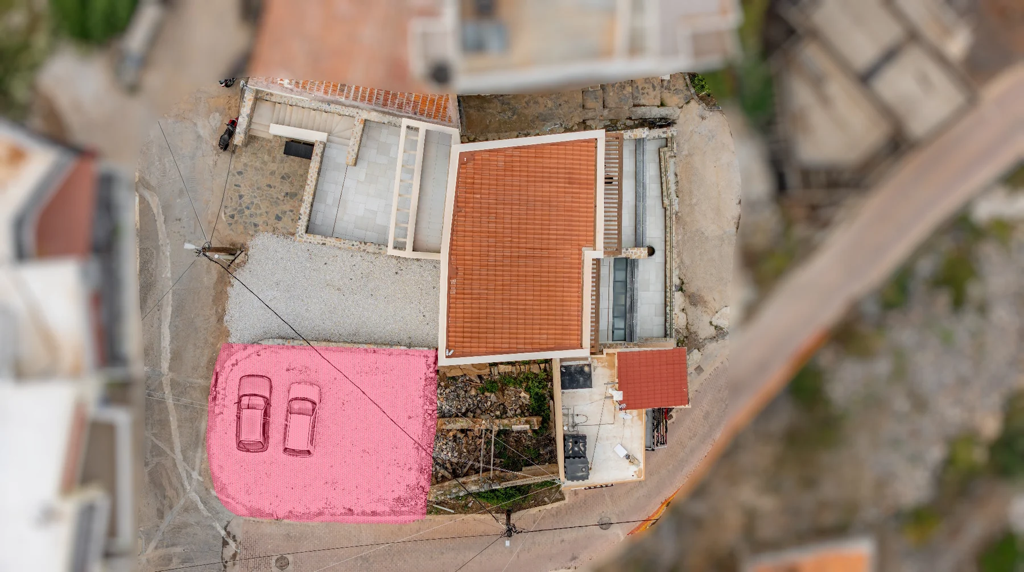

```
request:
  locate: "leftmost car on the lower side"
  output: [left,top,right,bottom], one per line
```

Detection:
[232,374,273,453]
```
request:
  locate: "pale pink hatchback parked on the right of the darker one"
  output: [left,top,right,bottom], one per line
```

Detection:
[282,380,323,459]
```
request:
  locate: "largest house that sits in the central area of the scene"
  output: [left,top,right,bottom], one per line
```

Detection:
[438,130,605,365]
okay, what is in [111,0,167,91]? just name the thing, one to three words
van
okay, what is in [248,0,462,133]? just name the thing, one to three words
house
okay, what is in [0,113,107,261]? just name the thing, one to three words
house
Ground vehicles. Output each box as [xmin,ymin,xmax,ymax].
[219,61,248,88]
[220,117,239,152]
[282,380,323,459]
[111,0,167,91]
[232,374,273,453]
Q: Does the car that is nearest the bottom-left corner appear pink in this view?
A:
Yes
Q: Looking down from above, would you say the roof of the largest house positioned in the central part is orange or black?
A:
orange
